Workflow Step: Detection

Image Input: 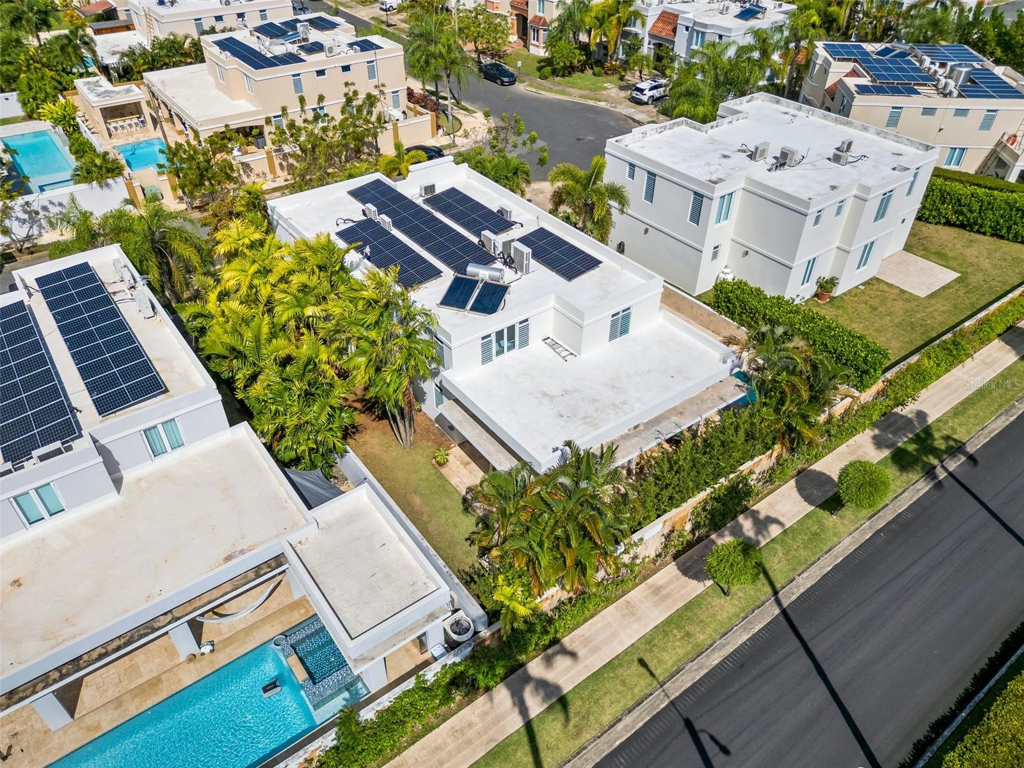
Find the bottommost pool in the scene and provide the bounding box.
[43,617,371,768]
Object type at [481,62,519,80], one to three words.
car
